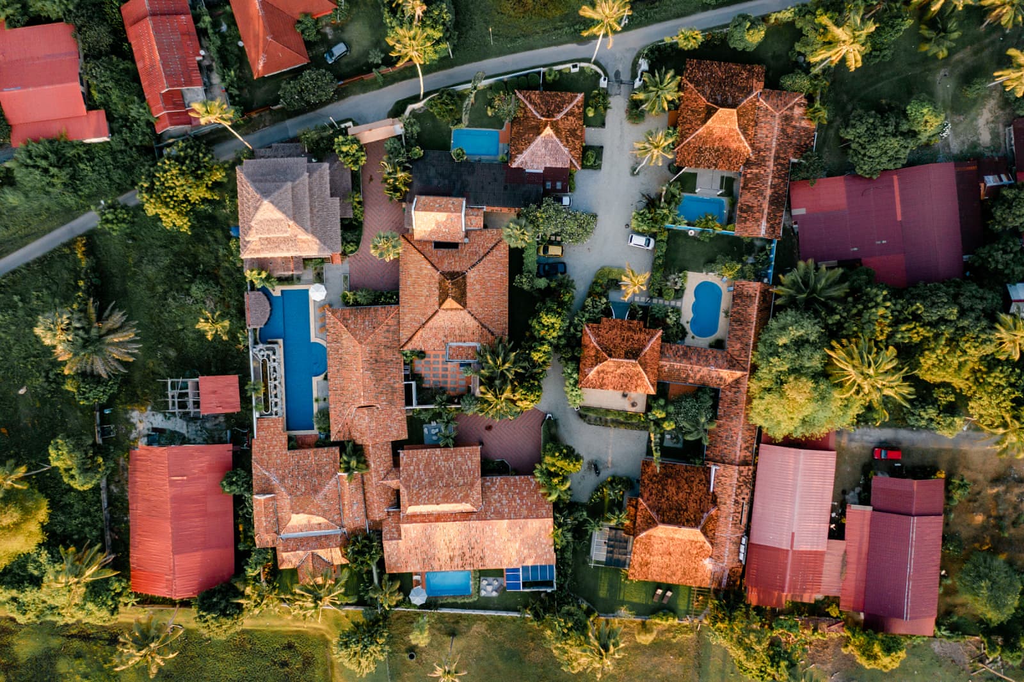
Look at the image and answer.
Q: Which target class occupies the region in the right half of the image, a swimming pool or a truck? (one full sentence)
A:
Looking in the right half of the image, you will find a swimming pool.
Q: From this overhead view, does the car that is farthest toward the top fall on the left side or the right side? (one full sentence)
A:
The car that is farthest toward the top is on the left side of the image.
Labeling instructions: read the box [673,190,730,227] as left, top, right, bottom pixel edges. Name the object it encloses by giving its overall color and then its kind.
blue swimming pool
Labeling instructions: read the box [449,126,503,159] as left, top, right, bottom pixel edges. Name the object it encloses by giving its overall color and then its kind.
blue swimming pool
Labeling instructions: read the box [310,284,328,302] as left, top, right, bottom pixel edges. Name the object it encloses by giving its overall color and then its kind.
white umbrella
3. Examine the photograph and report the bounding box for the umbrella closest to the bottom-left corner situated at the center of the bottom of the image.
[409,586,428,604]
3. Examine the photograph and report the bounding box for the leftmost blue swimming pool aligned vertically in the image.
[249,276,328,438]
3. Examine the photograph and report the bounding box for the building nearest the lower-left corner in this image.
[130,444,239,600]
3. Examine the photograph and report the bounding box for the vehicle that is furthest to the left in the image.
[322,41,350,63]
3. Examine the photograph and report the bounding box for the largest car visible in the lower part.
[873,447,902,462]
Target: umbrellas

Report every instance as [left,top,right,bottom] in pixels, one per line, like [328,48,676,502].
[409,586,428,604]
[310,284,328,302]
